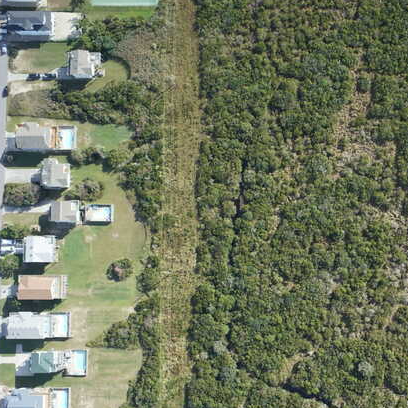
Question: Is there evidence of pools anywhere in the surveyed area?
Yes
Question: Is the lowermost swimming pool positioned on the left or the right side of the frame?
left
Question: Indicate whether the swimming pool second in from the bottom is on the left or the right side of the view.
left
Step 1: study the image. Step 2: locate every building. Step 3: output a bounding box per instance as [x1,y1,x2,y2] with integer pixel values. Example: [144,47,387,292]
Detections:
[7,311,54,339]
[14,122,59,150]
[11,275,70,301]
[0,11,57,45]
[22,236,62,262]
[51,201,85,224]
[0,387,54,408]
[39,159,77,189]
[66,49,103,80]
[28,350,67,373]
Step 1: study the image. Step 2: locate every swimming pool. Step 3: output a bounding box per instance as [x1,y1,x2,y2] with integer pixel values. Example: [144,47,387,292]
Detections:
[56,126,77,149]
[51,388,71,408]
[51,313,69,339]
[66,350,88,376]
[85,205,114,223]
